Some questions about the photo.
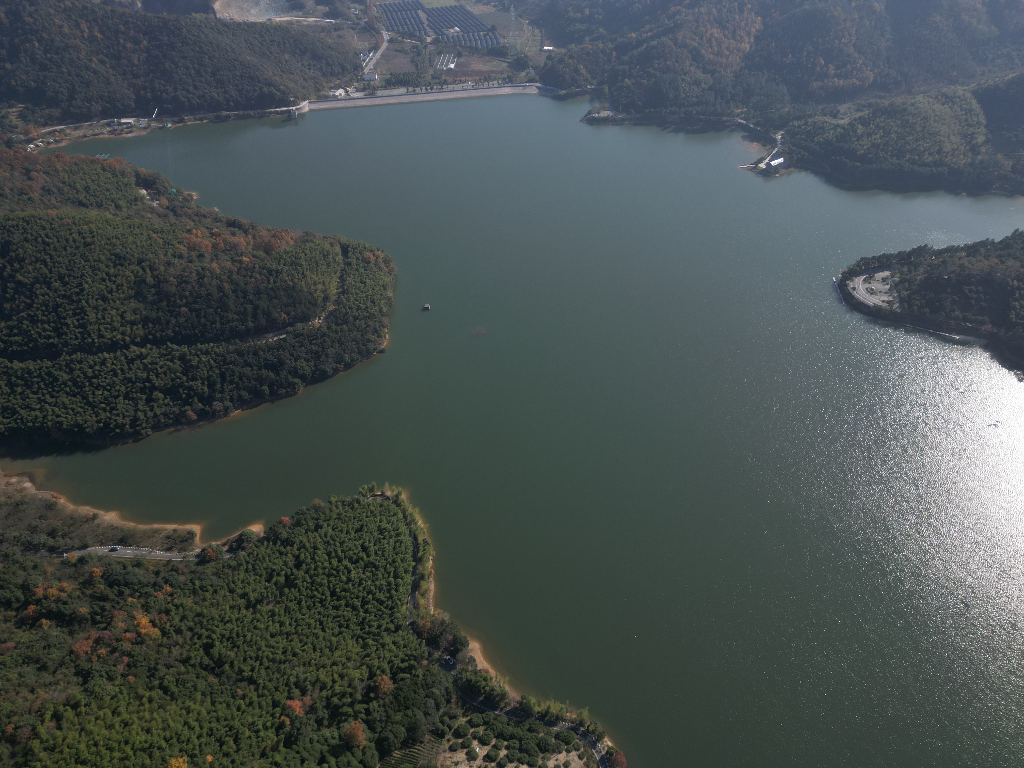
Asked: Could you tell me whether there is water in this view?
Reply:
Yes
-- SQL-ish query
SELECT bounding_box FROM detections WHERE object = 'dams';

[307,84,535,111]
